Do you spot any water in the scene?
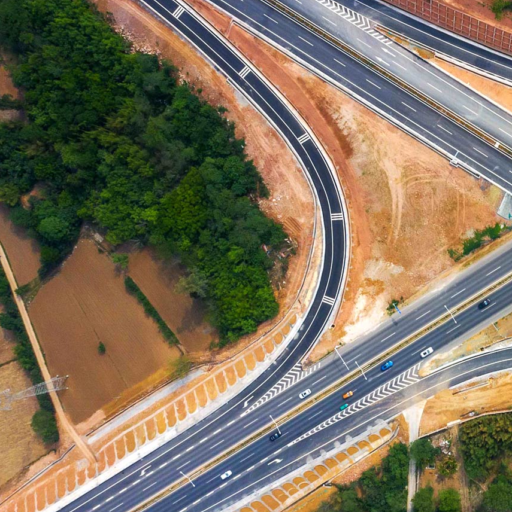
No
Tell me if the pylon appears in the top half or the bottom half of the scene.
bottom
